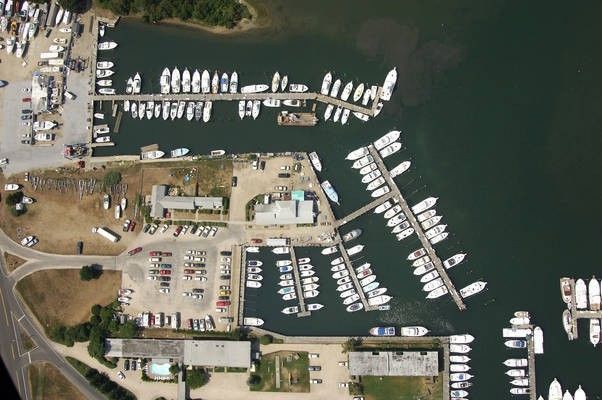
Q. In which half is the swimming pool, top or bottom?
bottom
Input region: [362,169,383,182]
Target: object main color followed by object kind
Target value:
white boat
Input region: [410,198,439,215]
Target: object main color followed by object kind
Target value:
white boat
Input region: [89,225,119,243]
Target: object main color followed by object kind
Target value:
white vehicle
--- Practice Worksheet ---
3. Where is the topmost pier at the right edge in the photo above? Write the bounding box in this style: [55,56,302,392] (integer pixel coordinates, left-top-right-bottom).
[570,279,602,339]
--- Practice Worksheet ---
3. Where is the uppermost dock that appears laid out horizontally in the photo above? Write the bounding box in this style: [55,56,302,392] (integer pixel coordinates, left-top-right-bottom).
[92,86,384,117]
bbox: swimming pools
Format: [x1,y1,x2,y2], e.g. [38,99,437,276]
[145,361,175,381]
